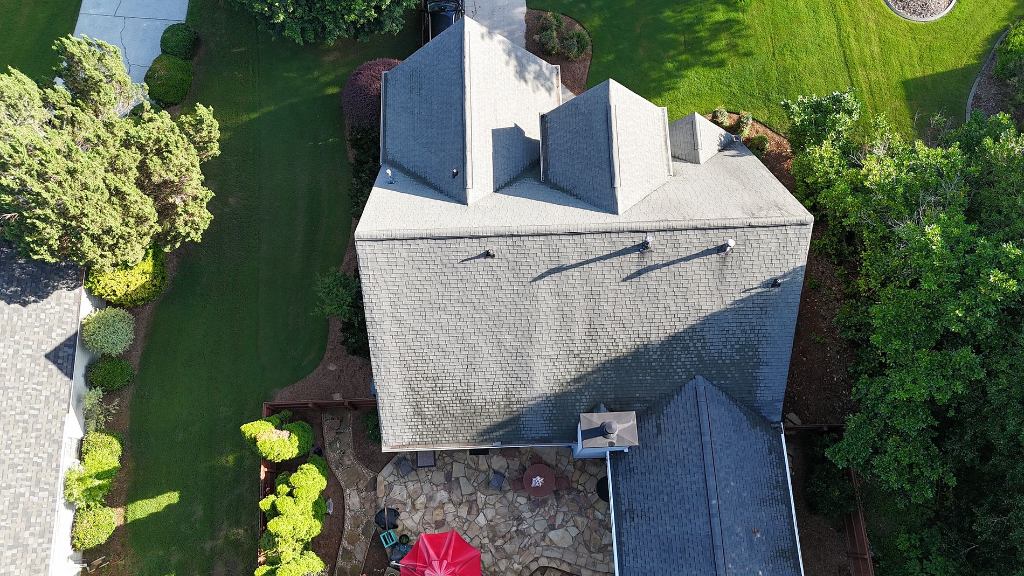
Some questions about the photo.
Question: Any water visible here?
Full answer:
No, no water is visible.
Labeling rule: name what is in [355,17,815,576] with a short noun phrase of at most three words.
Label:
house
